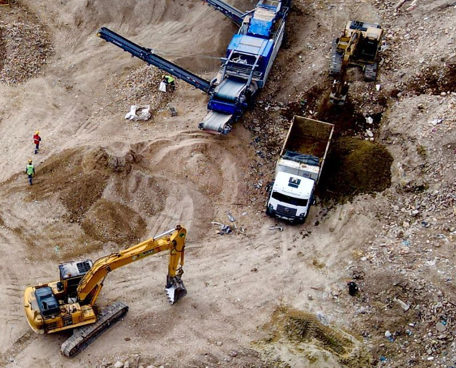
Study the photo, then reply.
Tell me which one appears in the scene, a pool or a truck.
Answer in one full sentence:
There is a truck in the scene.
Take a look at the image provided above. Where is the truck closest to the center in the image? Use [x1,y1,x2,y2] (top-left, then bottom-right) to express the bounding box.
[265,117,336,230]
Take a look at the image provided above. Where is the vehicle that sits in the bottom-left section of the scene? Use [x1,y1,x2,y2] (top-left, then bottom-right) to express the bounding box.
[24,212,194,355]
